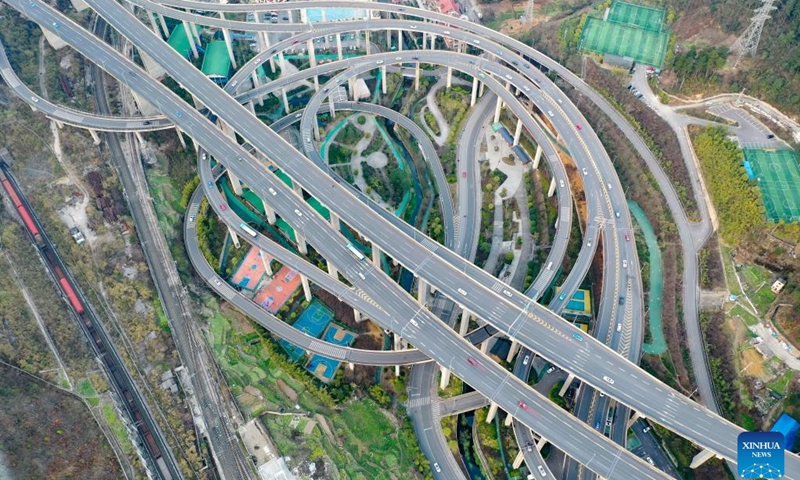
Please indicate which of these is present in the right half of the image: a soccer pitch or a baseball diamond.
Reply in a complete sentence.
It is a soccer pitch that can be seen in the right half of the image.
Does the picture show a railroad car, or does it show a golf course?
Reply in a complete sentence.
The image shows a railroad car.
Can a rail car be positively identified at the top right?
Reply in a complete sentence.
No, looking at the top right, there is no rail car.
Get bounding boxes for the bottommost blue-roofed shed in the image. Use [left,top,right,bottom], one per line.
[767,412,800,450]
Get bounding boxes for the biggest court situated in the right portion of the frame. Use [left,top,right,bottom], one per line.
[555,283,594,313]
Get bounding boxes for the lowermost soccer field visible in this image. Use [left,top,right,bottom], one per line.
[743,144,800,221]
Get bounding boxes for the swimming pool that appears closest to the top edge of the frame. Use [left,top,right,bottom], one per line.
[300,0,370,22]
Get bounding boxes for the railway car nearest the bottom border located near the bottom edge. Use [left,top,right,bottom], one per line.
[153,454,175,480]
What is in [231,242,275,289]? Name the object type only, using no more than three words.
basketball court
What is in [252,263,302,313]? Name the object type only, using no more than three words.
basketball court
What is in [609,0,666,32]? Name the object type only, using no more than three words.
soccer field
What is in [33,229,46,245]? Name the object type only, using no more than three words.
rail car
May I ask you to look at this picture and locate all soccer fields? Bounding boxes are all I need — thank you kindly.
[609,0,666,32]
[577,10,670,69]
[743,144,800,221]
